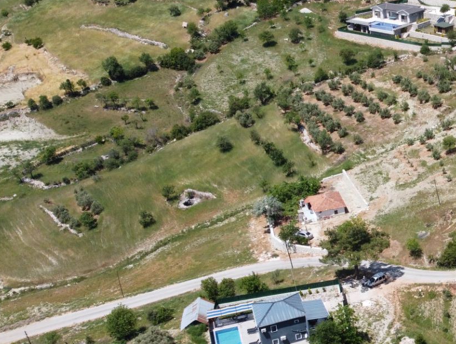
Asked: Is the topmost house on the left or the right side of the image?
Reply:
right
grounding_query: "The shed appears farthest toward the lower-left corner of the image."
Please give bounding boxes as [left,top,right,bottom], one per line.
[177,289,208,323]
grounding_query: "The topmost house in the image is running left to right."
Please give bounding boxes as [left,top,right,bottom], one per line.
[368,0,425,24]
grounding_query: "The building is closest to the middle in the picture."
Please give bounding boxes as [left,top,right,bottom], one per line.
[300,188,348,226]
